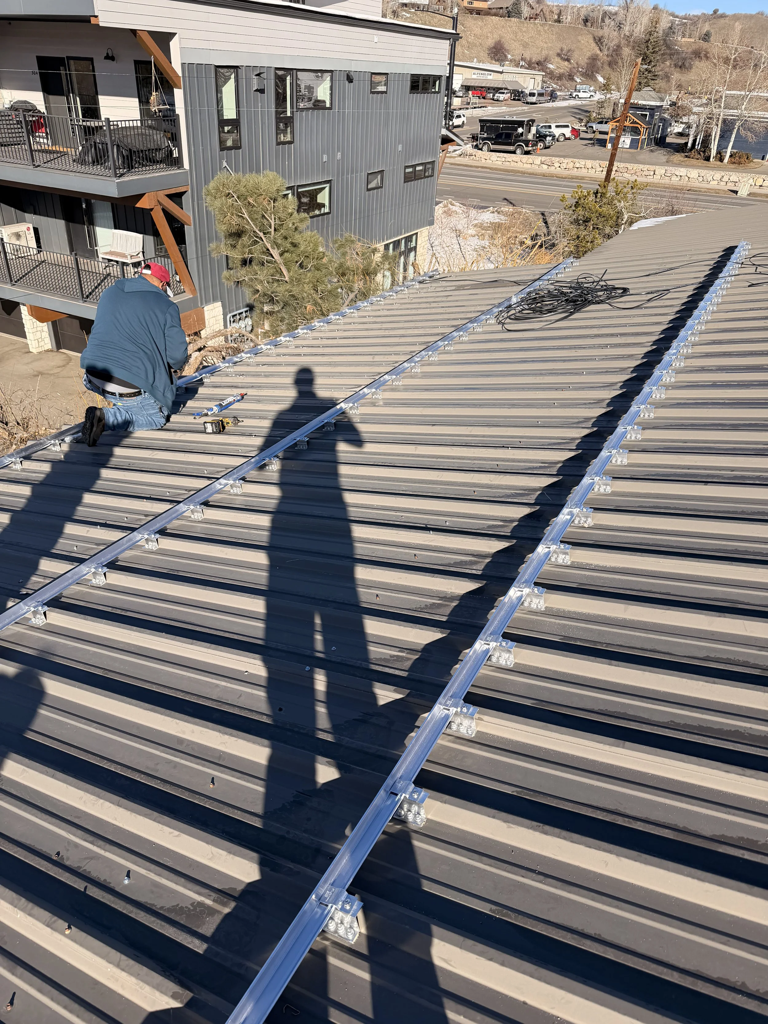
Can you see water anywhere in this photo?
No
